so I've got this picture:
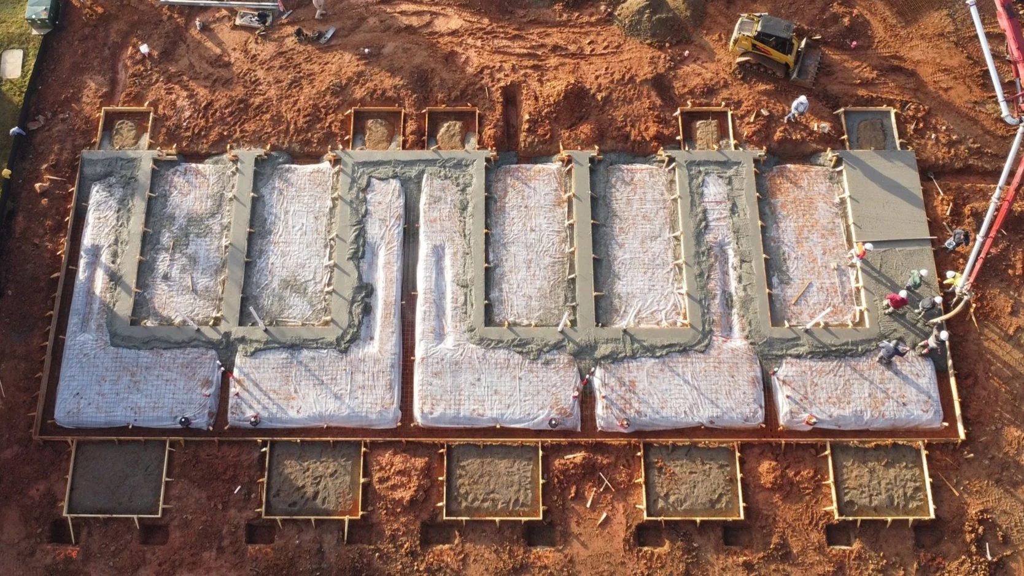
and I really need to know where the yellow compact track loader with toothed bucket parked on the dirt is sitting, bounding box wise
[731,12,824,92]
